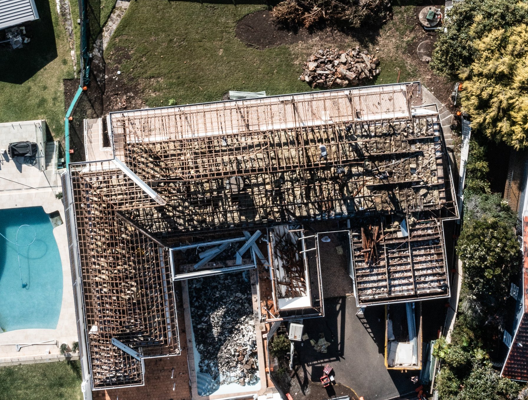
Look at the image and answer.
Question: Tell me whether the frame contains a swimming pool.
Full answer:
Yes, a swimming pool appears in the view.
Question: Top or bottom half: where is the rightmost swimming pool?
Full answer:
You can find the rightmost swimming pool in the bottom half.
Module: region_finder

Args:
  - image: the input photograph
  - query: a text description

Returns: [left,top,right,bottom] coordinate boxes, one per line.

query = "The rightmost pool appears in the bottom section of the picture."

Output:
[189,271,260,397]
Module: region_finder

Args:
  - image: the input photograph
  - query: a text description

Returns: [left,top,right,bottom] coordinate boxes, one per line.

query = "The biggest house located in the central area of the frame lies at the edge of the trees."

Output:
[67,80,461,396]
